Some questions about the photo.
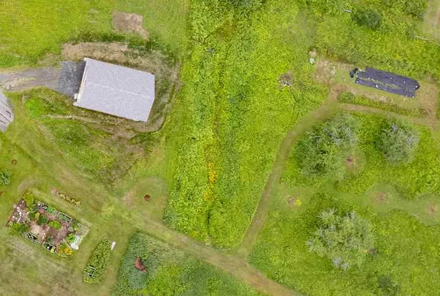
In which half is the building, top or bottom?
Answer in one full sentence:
The top half of the photo is where the building is.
